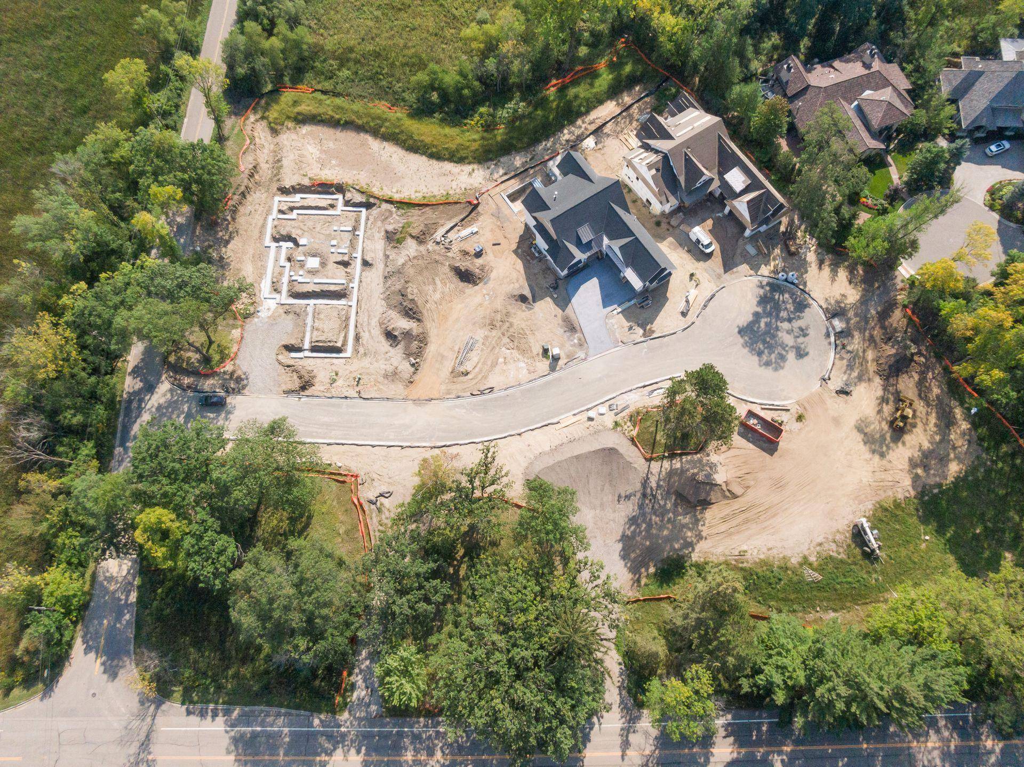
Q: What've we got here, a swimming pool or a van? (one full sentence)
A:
Of the two, only a van appears.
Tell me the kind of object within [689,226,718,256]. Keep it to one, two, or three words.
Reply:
van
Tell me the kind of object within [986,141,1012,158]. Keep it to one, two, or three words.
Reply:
car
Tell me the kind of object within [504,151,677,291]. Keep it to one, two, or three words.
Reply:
house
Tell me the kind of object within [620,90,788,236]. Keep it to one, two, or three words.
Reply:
house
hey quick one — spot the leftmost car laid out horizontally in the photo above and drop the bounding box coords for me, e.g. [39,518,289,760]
[198,394,226,407]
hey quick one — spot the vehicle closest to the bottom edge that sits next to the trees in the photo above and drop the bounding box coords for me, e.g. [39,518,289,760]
[857,523,890,573]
